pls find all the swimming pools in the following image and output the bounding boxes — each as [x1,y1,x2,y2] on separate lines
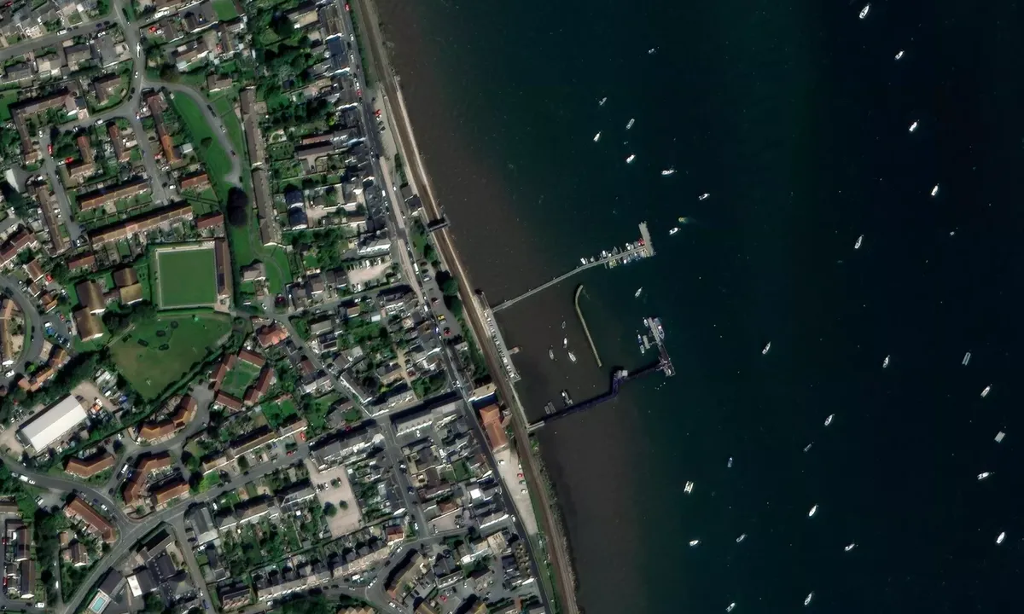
[88,592,110,614]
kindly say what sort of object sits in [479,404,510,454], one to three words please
building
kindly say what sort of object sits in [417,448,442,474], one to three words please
house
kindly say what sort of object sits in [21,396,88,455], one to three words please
building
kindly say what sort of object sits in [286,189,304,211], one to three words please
house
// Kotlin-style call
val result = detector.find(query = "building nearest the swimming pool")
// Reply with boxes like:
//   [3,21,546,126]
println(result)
[98,570,126,603]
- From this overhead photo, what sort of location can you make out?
residential area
